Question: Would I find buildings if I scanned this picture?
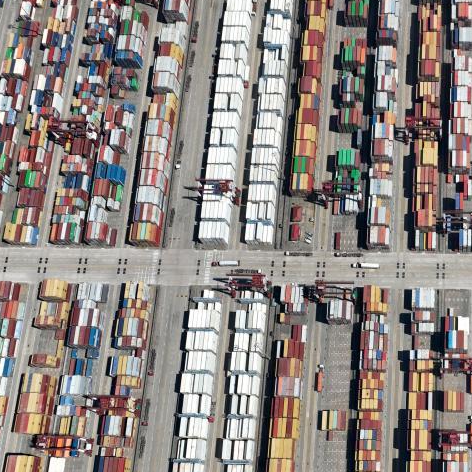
No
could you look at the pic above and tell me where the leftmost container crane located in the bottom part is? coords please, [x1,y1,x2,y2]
[37,435,96,458]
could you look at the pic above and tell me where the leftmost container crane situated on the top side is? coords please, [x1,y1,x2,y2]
[50,120,101,148]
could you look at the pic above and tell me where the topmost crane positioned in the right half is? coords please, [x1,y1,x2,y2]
[404,119,443,148]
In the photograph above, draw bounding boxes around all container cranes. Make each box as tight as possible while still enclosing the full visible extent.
[224,275,273,301]
[193,182,241,210]
[37,435,96,458]
[320,185,363,213]
[314,282,358,308]
[50,120,101,148]
[441,214,472,240]
[437,431,472,453]
[87,395,144,418]
[404,119,443,148]
[439,359,472,383]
